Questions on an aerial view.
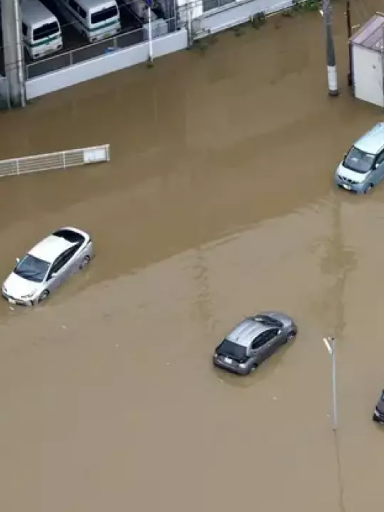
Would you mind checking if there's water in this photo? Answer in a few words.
Yes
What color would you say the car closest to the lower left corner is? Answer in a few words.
white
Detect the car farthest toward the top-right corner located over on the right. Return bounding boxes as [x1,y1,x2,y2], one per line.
[335,123,384,194]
